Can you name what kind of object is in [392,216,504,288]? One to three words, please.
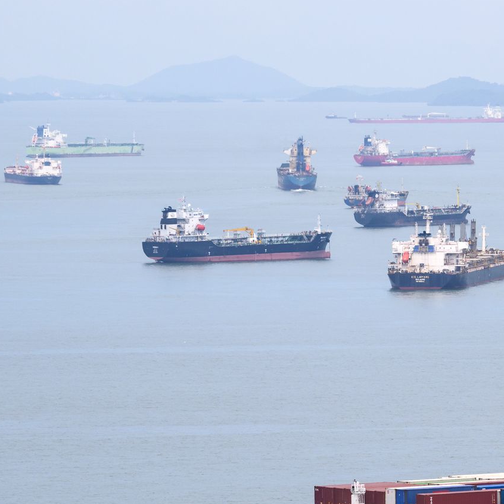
ship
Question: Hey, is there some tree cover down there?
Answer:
No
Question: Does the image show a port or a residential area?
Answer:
port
